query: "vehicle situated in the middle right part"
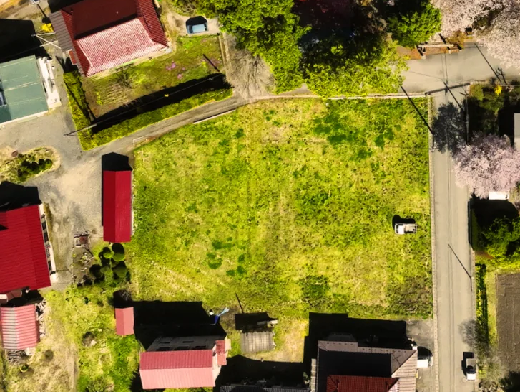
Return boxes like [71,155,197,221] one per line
[394,221,416,233]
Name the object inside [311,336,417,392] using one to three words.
house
